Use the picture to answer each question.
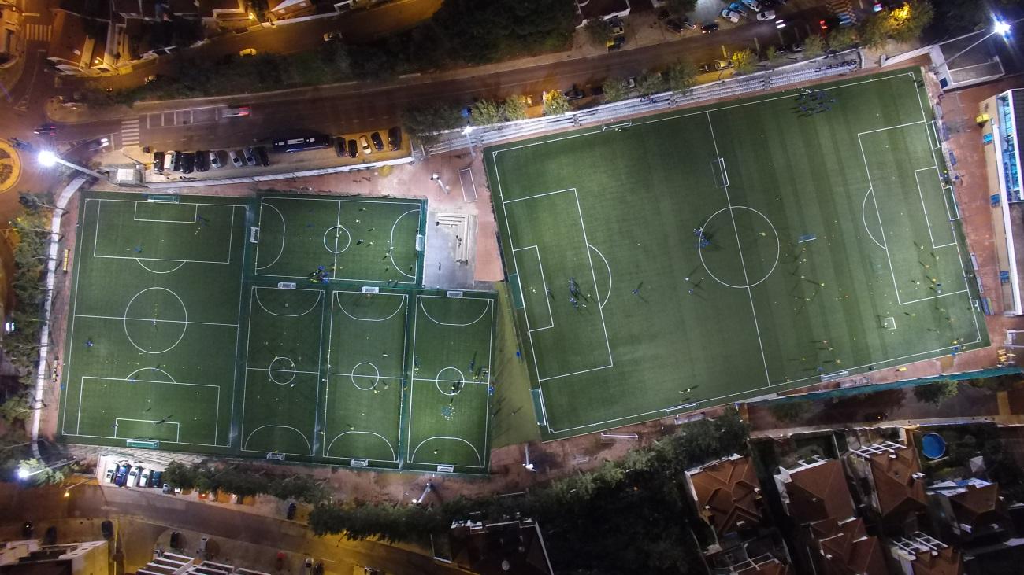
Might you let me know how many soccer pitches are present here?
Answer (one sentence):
The number of soccer pitches here is 6.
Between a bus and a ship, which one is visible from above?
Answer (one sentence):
The one in the frame is a bus.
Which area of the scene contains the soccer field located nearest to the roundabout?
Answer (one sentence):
Look in the left portion of the view to spot the soccer field located nearest to the roundabout.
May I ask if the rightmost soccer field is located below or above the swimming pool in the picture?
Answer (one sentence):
Looking at the photo, you'll find the rightmost soccer field above the swimming pool.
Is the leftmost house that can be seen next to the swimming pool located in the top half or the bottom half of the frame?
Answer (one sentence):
It is in the bottom half that the leftmost house that can be seen next to the swimming pool appears.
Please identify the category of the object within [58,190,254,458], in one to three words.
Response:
soccer field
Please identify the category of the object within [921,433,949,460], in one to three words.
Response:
swimming pool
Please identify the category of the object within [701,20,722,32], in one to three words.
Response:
vehicle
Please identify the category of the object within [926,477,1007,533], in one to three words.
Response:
house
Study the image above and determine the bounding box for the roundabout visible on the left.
[0,139,21,192]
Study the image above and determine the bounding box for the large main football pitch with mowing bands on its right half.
[484,66,991,444]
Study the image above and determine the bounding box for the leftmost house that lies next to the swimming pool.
[841,429,929,516]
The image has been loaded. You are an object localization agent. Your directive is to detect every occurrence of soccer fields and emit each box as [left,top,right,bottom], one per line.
[251,194,427,287]
[484,66,991,444]
[239,284,329,463]
[58,190,254,458]
[318,286,413,470]
[404,288,497,475]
